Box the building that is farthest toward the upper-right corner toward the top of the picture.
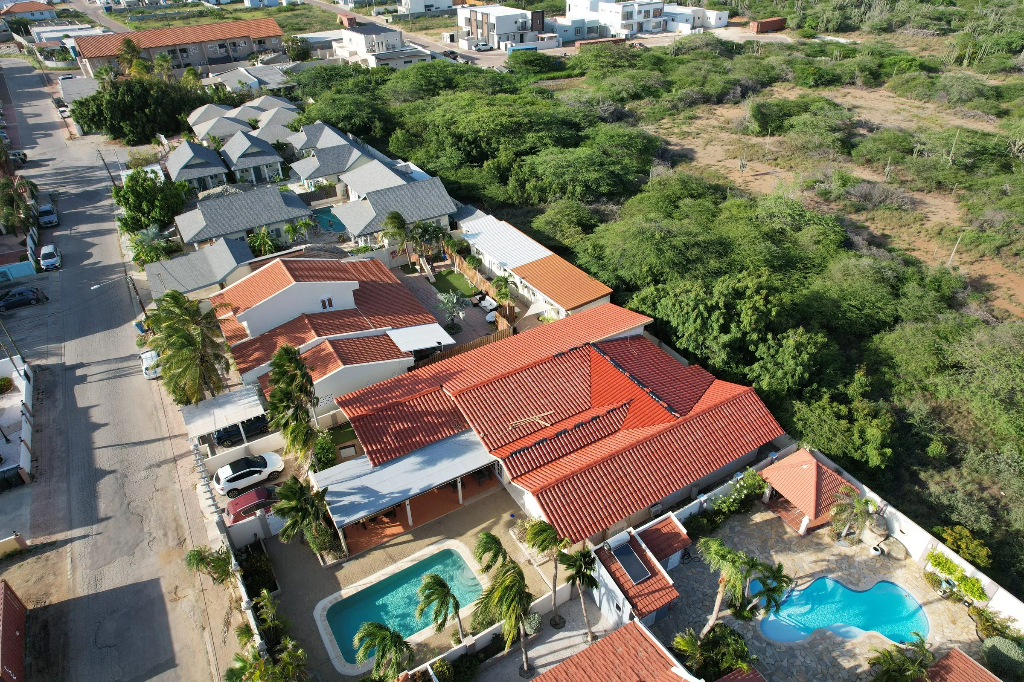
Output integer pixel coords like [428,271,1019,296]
[695,6,729,27]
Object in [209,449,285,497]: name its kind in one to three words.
car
